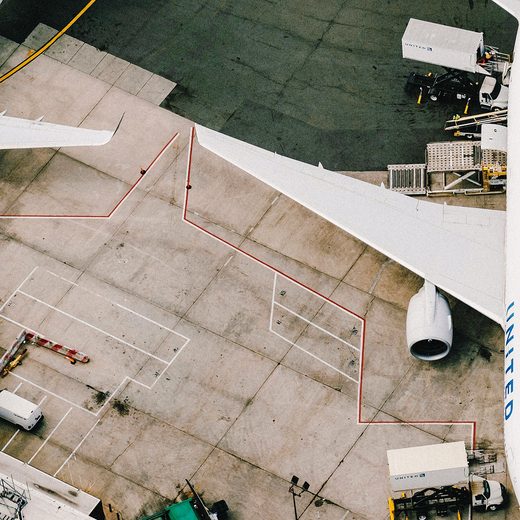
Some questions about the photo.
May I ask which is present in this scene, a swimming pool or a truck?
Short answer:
truck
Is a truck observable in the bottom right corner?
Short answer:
Yes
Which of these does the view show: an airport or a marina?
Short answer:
airport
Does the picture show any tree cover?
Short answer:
No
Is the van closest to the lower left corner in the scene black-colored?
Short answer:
No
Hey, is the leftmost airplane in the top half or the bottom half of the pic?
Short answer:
top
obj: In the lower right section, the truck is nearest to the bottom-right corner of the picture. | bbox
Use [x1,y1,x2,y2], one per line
[388,444,515,520]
